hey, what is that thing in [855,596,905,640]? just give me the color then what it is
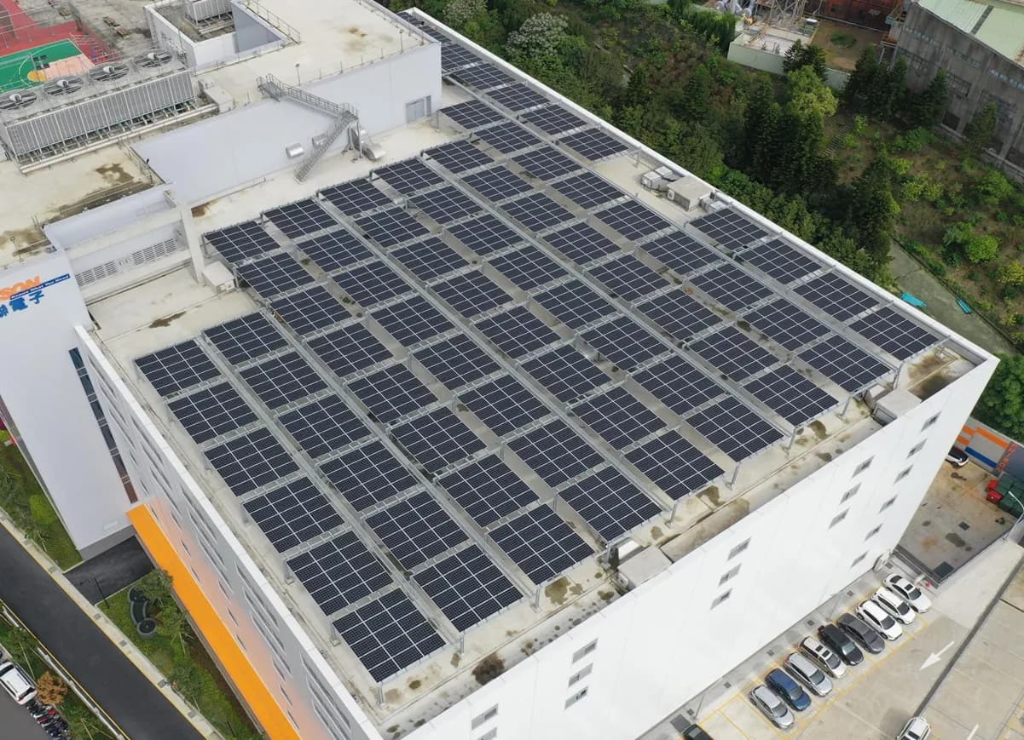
white car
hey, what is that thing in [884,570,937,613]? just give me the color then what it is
white car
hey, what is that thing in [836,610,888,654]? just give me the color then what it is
gray car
